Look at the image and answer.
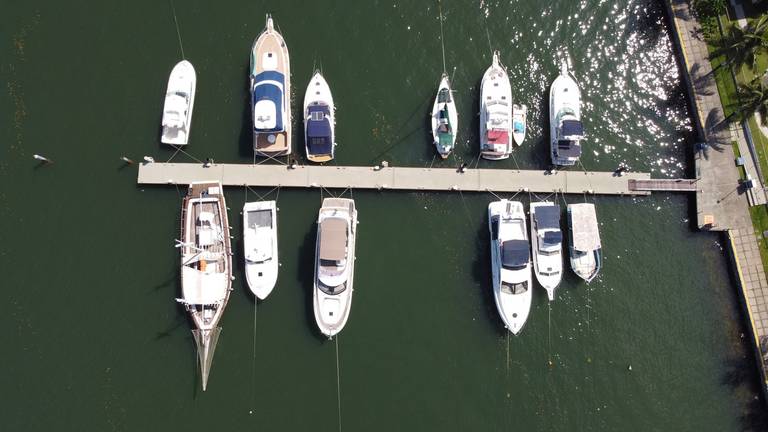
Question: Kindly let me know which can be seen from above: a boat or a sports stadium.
boat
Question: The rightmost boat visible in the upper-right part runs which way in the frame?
up and down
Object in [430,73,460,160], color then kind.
white boat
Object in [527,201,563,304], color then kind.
white boat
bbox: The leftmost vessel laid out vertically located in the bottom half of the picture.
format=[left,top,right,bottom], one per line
[175,181,237,390]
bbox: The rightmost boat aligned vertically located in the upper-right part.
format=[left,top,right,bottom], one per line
[548,62,590,170]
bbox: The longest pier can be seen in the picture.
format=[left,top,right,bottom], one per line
[137,162,650,196]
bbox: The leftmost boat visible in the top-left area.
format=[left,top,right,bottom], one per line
[161,58,200,147]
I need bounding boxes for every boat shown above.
[244,201,282,298]
[527,201,563,304]
[564,204,602,281]
[430,73,460,160]
[488,200,532,337]
[476,53,512,165]
[312,200,360,344]
[161,58,200,147]
[303,68,338,164]
[513,103,526,146]
[548,62,590,170]
[250,20,296,161]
